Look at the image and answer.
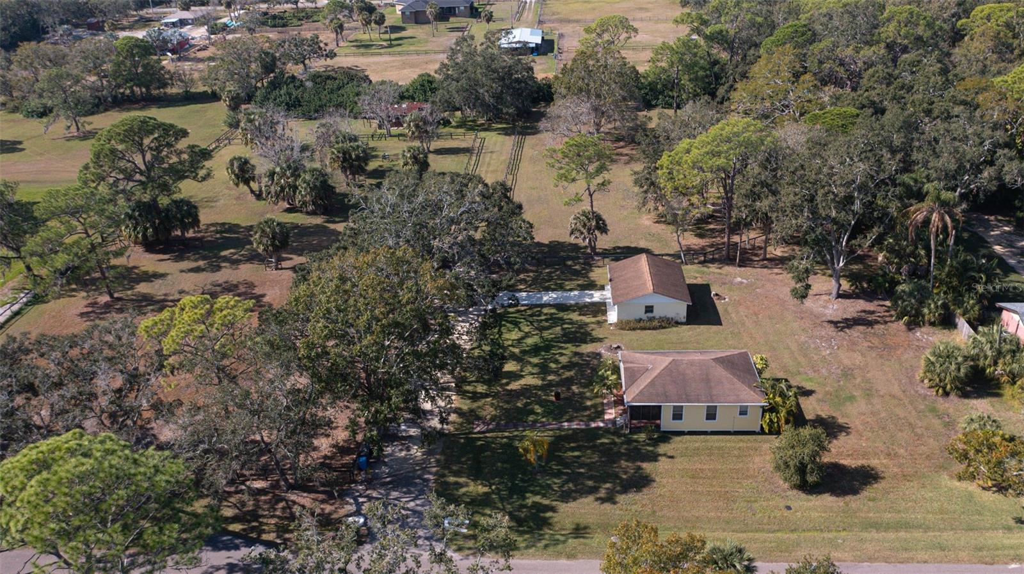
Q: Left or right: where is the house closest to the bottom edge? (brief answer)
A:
right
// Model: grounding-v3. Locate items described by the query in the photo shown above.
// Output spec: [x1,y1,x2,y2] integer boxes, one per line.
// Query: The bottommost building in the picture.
[612,350,767,432]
